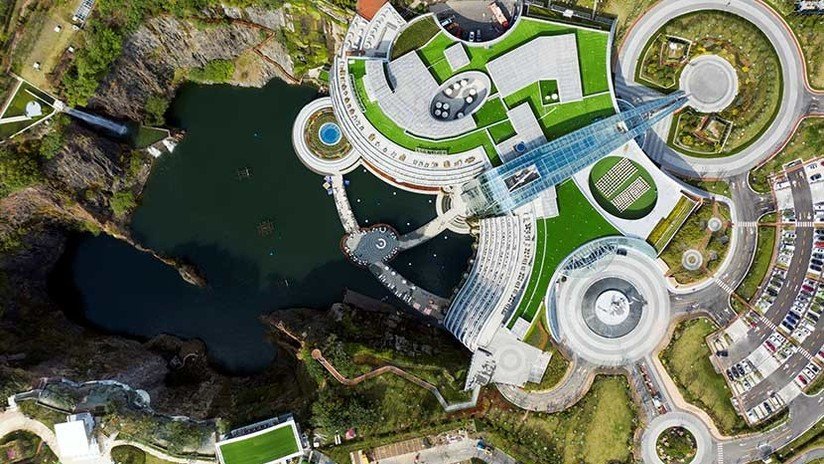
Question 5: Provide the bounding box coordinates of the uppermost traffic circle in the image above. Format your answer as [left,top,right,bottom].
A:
[613,0,807,177]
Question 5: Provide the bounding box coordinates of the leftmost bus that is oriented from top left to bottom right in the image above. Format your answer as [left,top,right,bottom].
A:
[488,0,512,27]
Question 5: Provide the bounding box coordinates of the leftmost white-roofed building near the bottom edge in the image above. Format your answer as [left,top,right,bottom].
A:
[55,411,105,464]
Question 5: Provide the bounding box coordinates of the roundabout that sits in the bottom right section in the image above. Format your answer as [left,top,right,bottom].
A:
[637,410,712,464]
